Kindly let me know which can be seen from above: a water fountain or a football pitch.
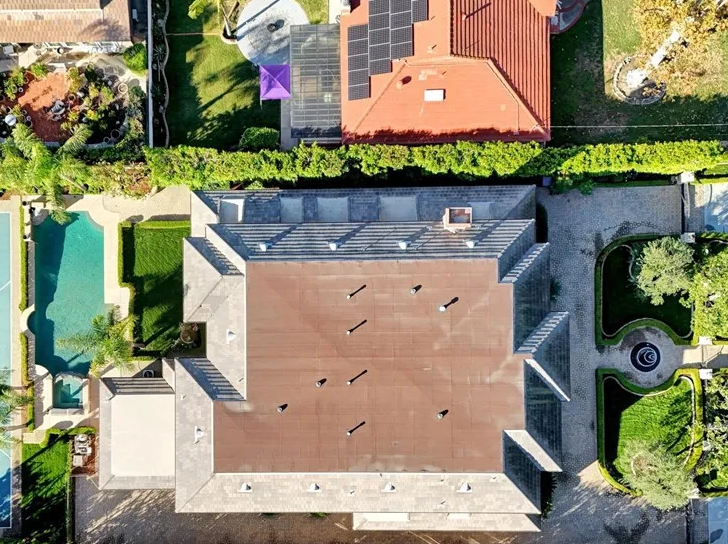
water fountain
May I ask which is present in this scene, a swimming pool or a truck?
swimming pool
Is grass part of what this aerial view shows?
Yes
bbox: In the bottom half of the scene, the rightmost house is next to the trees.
[161,184,571,532]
